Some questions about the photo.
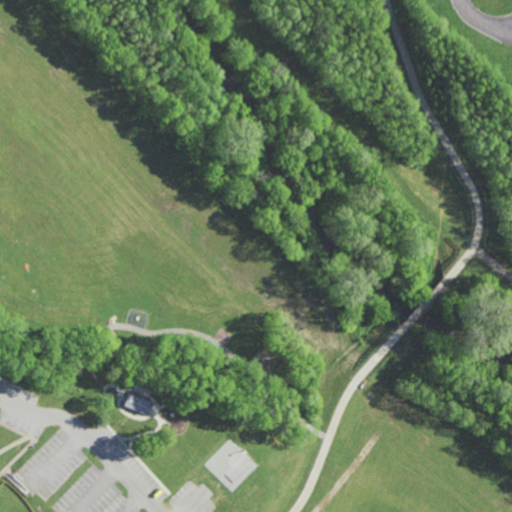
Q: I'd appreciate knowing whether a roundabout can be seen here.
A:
No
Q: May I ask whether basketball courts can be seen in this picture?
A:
Yes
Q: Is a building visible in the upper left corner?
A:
No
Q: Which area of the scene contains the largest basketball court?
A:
bottom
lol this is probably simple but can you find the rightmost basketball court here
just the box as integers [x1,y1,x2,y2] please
[206,440,258,492]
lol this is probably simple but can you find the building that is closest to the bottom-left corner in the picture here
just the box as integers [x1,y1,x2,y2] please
[126,393,154,417]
